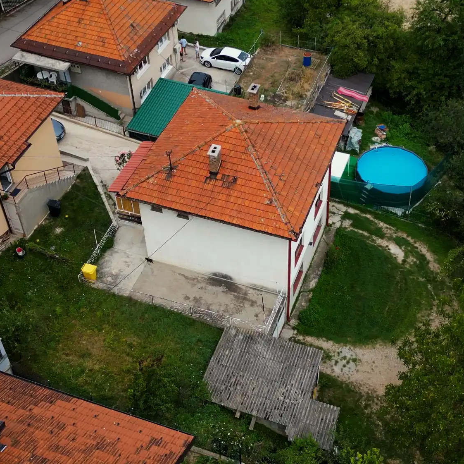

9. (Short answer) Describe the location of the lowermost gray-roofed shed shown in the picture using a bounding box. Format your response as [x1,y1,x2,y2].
[204,327,340,454]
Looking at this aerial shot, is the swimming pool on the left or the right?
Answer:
right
